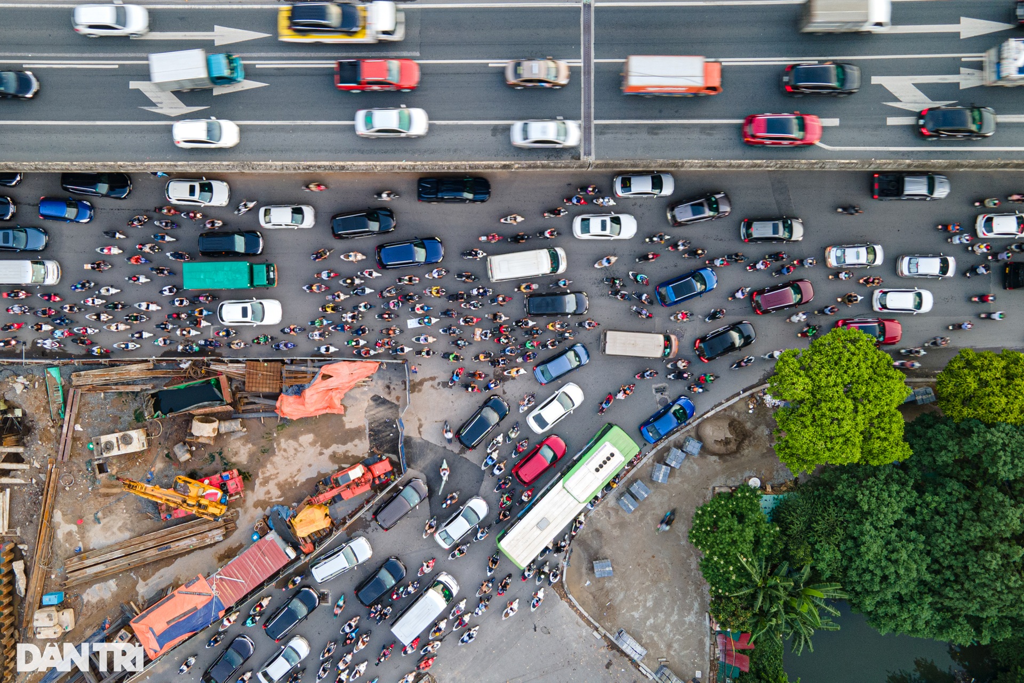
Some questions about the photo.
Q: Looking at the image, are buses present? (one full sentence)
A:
Yes, looking at the shot, I can spot a bus.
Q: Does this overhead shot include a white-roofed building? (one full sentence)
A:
No, the frame has no white-roofed building in it.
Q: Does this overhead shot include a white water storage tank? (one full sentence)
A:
No, this view has no white water storage tank in it.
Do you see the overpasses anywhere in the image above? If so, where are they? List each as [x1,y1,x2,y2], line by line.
[0,0,1024,172]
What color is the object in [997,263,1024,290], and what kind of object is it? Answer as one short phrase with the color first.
black truck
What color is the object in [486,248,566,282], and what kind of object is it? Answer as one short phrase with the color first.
white vehicle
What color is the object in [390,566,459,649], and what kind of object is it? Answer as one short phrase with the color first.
white van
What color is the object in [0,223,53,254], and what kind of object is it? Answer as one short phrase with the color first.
blue car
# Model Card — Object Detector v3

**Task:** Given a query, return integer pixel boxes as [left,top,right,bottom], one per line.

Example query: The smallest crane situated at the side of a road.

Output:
[308,442,395,505]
